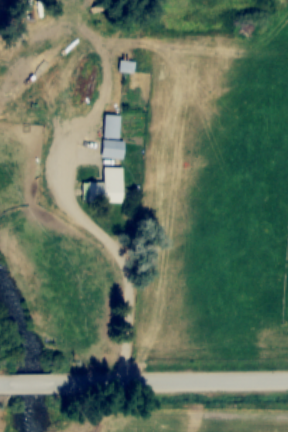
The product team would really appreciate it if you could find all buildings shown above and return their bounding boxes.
[105,114,122,138]
[120,60,136,72]
[103,139,126,159]
[84,167,126,202]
